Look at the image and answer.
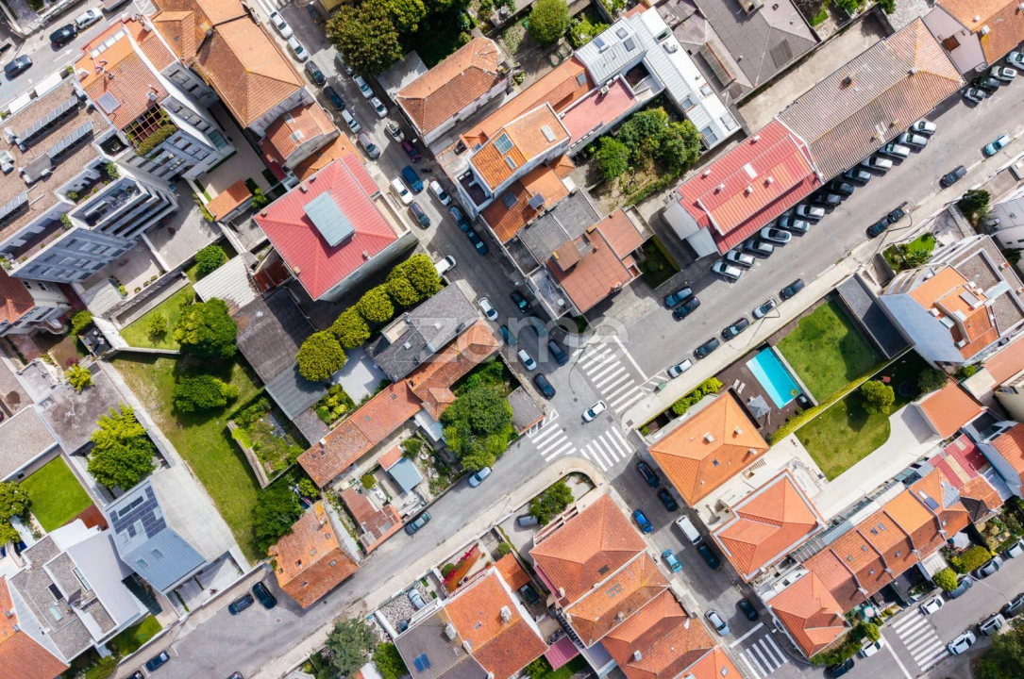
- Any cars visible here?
Yes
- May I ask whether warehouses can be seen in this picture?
Yes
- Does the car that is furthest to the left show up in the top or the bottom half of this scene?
top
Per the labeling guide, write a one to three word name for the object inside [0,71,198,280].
building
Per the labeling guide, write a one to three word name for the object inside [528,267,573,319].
house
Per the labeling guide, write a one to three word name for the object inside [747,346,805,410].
swimming pool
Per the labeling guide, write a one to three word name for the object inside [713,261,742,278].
car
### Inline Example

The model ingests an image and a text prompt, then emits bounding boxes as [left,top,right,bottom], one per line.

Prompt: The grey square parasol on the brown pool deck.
[746,395,768,417]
